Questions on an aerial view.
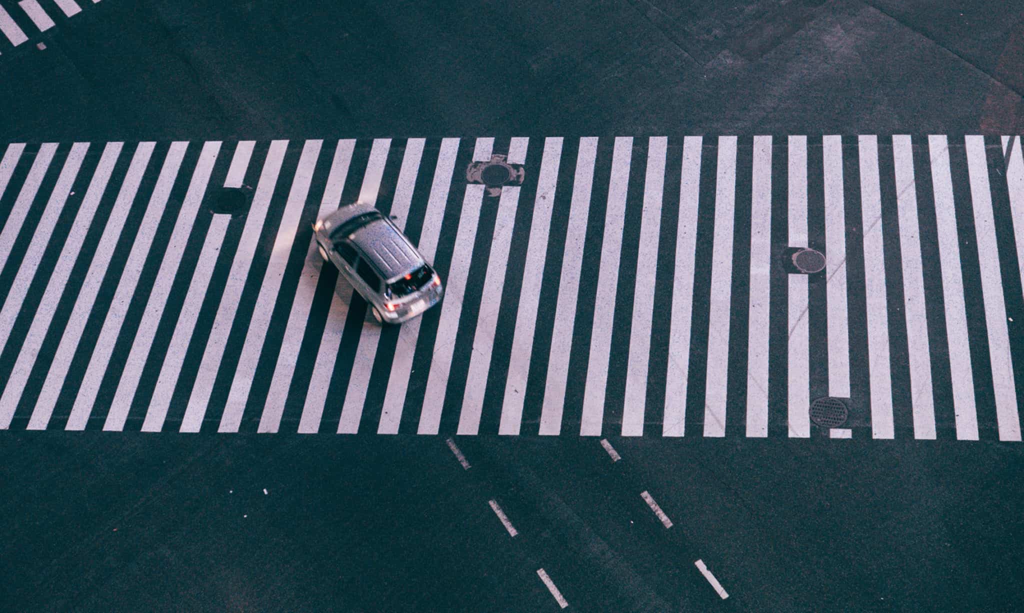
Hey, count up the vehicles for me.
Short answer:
1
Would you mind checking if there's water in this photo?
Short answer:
No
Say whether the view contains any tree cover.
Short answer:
No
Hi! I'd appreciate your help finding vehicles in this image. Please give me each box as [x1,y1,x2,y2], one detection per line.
[313,201,443,325]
